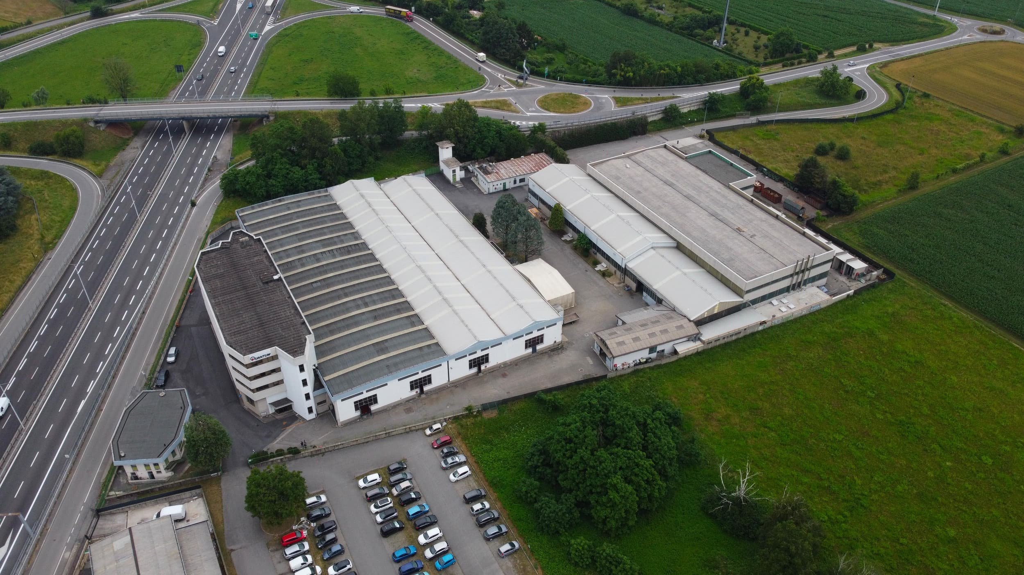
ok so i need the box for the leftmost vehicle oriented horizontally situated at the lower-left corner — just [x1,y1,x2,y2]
[154,504,188,521]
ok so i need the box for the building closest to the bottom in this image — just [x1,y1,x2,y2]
[86,514,221,575]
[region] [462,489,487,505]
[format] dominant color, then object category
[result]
gray car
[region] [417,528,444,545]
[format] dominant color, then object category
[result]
white car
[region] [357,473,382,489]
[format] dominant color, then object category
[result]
white car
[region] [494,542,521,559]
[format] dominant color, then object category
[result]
gray car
